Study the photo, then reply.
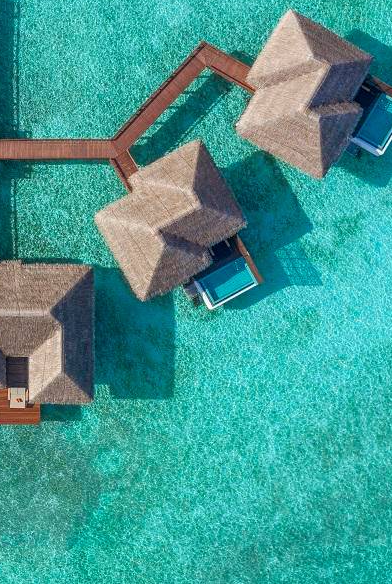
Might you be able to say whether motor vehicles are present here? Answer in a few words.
No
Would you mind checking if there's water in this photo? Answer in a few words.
Yes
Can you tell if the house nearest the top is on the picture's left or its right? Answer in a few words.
right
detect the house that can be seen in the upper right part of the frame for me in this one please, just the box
[237,9,373,178]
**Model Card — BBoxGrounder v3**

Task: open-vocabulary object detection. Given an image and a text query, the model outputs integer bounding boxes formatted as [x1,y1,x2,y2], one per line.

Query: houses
[237,9,373,178]
[0,262,96,405]
[94,140,247,301]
